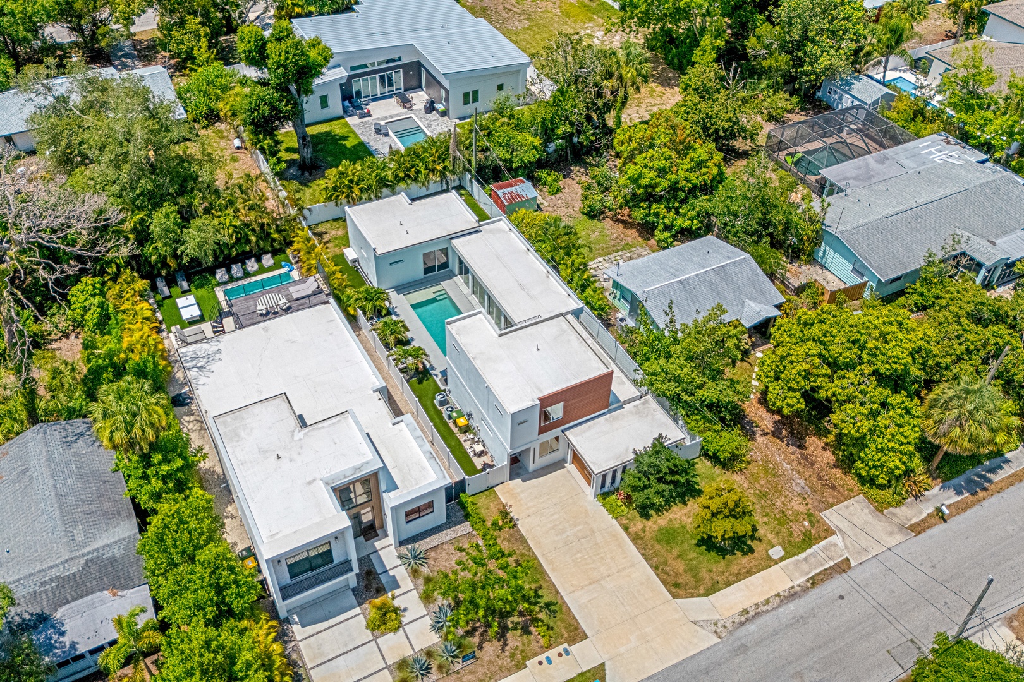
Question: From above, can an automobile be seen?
No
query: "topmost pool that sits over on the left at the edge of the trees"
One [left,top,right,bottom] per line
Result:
[381,112,435,148]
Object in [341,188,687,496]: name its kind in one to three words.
house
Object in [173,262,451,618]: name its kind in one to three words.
house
